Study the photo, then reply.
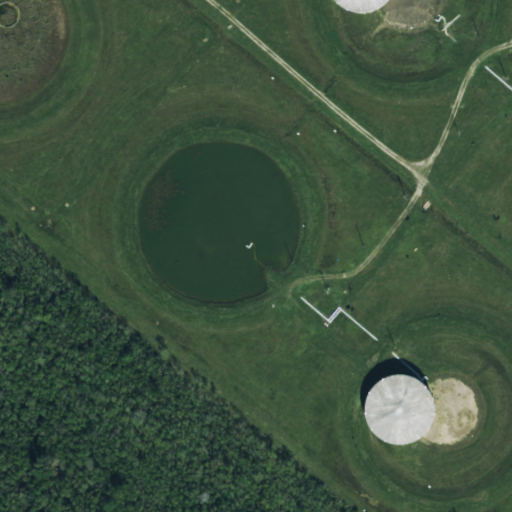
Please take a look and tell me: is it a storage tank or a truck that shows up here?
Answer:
storage tank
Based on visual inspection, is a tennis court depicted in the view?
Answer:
No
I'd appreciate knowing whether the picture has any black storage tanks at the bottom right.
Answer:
No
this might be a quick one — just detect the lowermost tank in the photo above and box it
[364,374,437,446]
